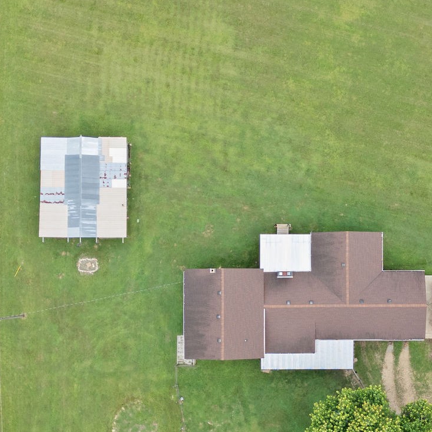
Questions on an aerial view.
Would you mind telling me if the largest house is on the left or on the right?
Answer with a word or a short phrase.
right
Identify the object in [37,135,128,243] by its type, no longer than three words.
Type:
shed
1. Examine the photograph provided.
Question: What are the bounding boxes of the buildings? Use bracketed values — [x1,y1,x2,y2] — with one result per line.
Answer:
[37,135,128,243]
[182,231,428,369]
